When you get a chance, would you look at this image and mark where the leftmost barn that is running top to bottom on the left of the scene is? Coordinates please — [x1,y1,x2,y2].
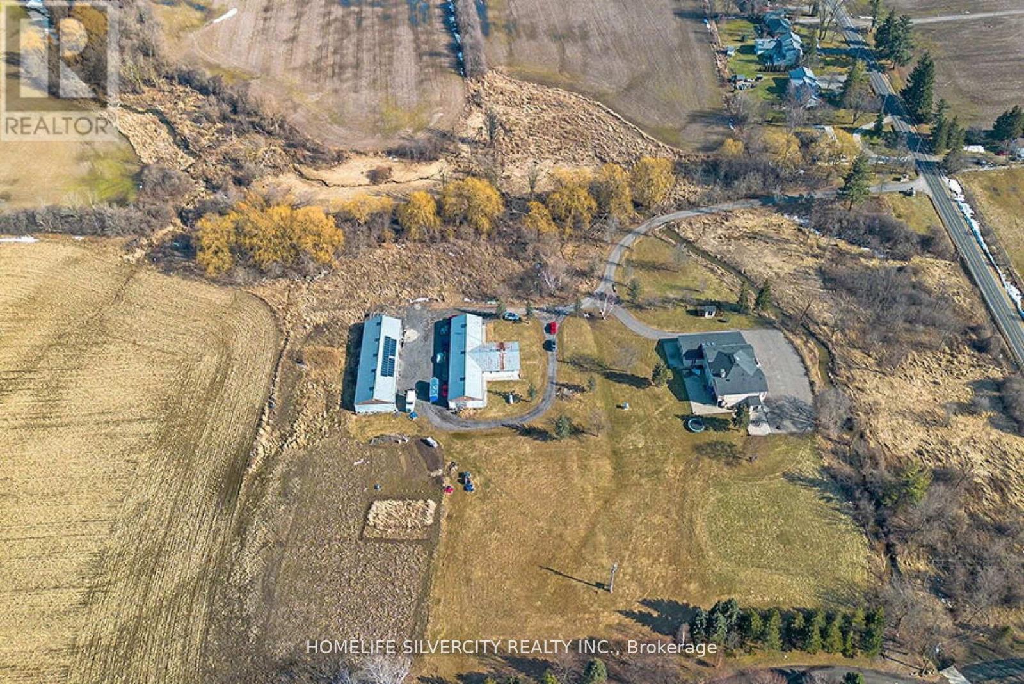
[355,315,401,411]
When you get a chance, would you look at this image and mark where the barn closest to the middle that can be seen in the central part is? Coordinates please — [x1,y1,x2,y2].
[448,313,520,411]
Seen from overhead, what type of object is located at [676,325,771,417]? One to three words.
house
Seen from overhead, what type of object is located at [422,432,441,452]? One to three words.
vehicle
